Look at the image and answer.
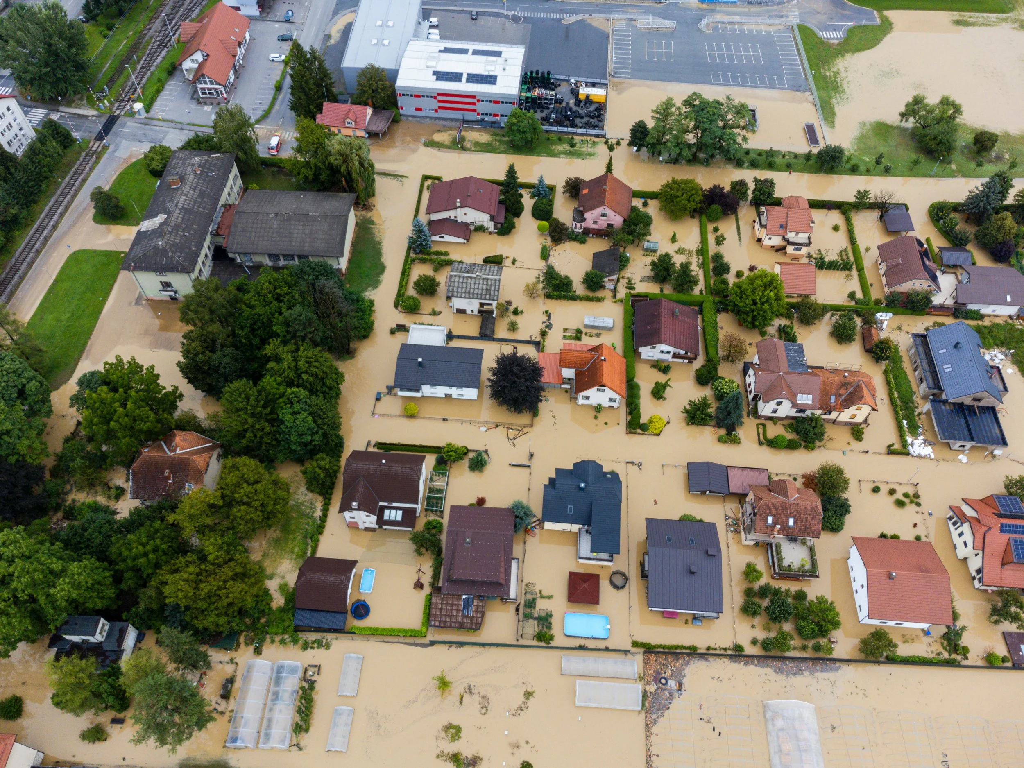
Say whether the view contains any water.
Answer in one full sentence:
Yes, water can be seen from above here.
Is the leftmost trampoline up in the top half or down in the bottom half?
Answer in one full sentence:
Seen from above, the leftmost trampoline lies in the bottom half of the view.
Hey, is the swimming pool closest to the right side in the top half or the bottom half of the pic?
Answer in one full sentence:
The swimming pool closest to the right side is in the bottom half of the image.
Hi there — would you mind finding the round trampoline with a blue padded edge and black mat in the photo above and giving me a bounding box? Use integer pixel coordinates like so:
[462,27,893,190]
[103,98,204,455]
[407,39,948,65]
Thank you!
[349,596,372,622]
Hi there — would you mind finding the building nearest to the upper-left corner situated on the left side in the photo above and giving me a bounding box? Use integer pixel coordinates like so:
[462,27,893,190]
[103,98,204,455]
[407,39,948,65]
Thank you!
[0,95,36,157]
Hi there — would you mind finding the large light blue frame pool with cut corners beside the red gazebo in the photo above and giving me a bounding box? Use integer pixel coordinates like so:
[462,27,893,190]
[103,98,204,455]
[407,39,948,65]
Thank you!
[564,613,611,639]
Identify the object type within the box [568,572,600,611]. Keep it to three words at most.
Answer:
gazebo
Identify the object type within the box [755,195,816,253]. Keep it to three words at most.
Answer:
house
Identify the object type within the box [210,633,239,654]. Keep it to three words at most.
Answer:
shed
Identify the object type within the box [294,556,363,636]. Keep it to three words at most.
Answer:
building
